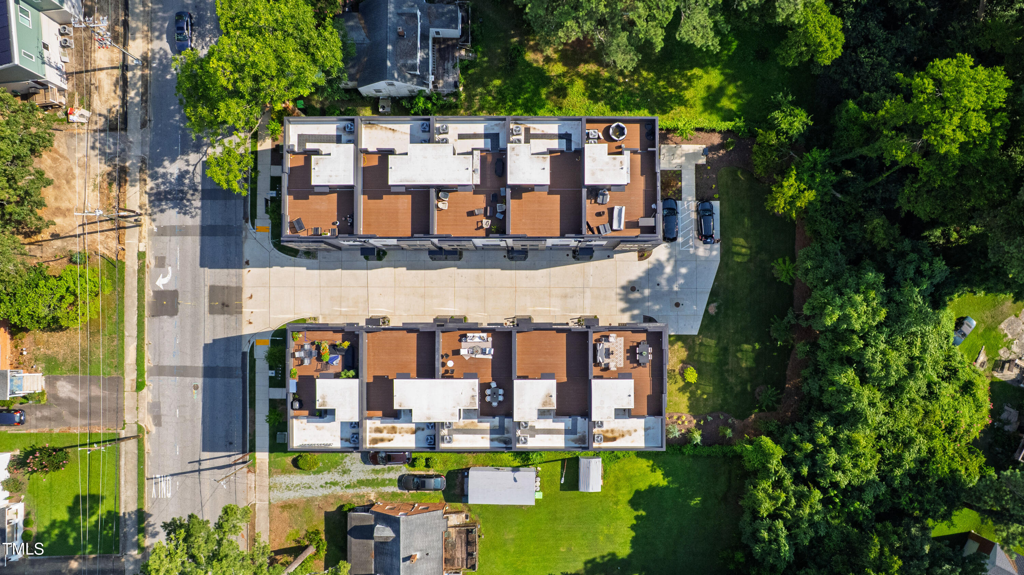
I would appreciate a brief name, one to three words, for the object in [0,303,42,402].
house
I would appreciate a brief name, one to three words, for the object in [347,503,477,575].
house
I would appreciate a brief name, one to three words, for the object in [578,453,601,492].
shed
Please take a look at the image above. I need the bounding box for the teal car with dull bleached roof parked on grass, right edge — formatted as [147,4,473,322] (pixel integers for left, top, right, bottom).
[943,312,980,349]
